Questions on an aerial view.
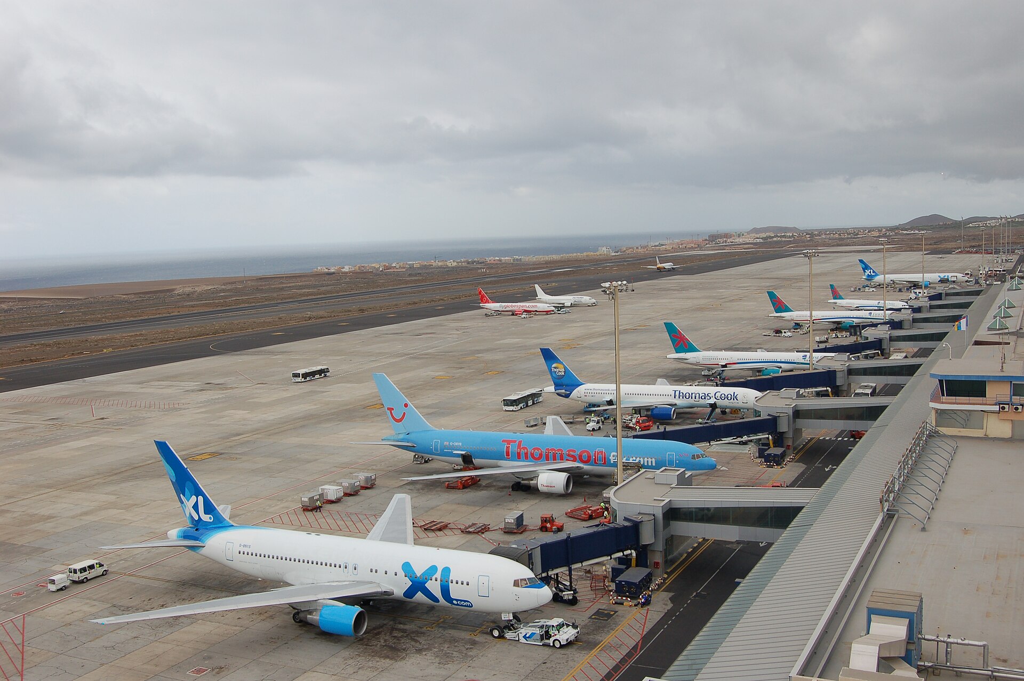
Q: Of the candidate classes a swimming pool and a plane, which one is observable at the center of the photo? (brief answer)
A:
plane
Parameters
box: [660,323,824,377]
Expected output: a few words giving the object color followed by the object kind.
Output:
white airplane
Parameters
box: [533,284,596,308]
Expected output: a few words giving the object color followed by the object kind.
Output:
white airplane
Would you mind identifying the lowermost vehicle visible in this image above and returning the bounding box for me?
[477,614,576,650]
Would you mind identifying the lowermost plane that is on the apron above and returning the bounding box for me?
[81,440,554,636]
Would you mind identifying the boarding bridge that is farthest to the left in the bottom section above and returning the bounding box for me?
[498,514,658,608]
